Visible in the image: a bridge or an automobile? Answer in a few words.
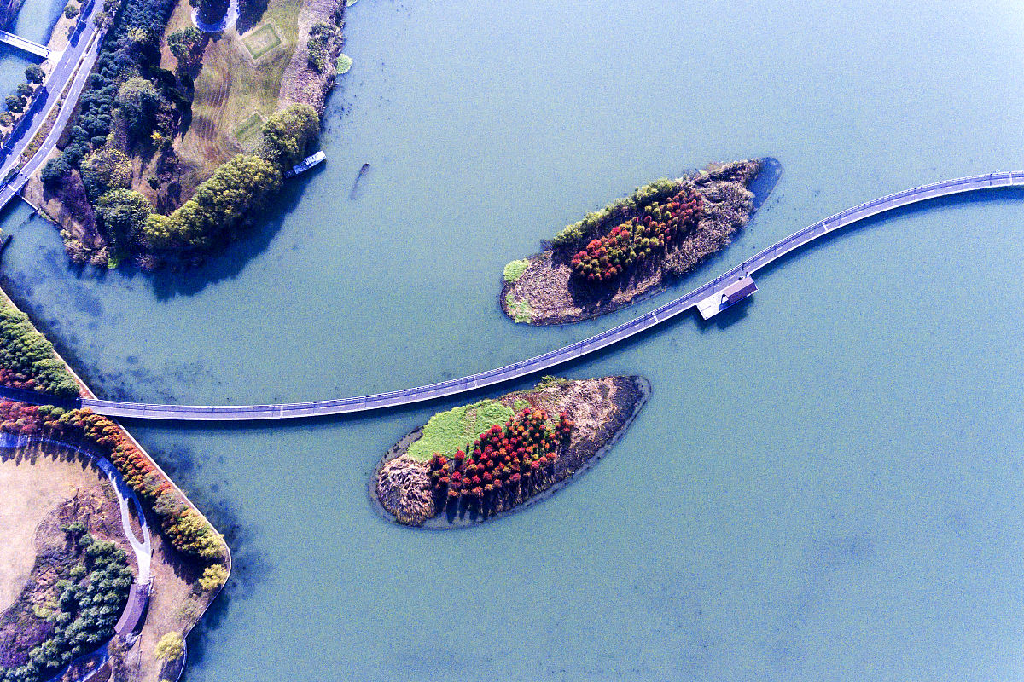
bridge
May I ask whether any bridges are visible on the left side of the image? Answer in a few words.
Yes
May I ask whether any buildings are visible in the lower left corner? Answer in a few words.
Yes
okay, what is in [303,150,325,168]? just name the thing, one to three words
boat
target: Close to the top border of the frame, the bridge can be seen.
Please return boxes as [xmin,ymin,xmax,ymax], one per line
[0,27,52,60]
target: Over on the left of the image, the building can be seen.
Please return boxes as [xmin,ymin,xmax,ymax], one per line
[114,581,151,636]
